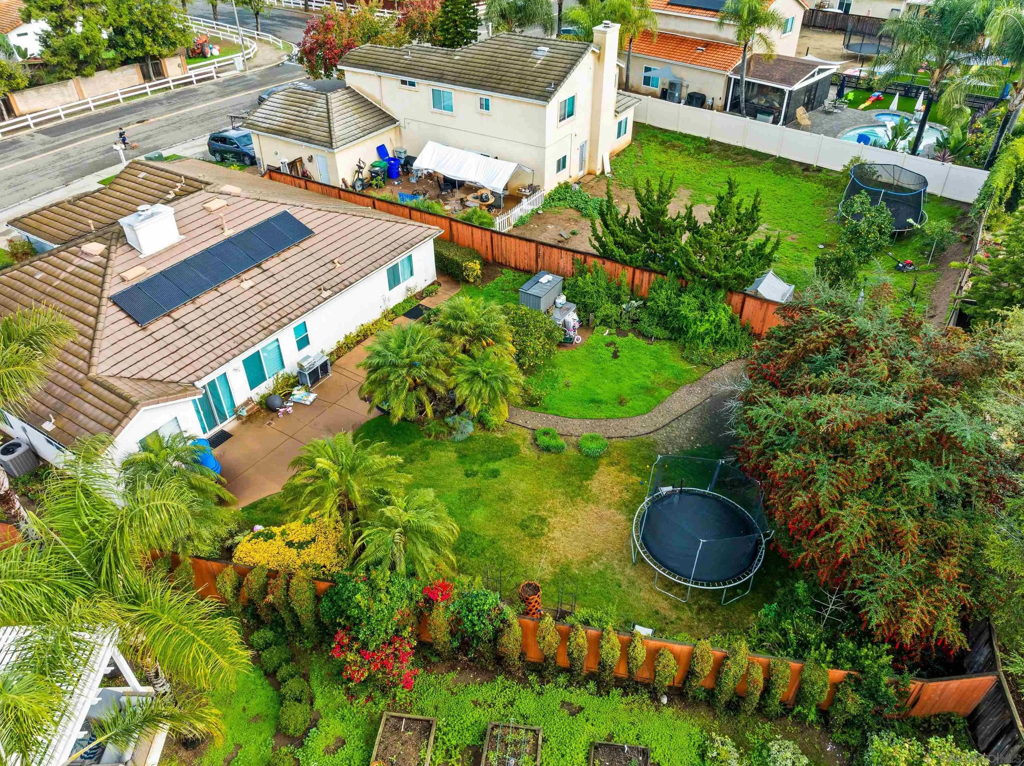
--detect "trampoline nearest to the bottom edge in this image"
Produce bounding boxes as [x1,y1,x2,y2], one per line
[631,446,781,606]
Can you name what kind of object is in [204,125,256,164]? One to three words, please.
car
